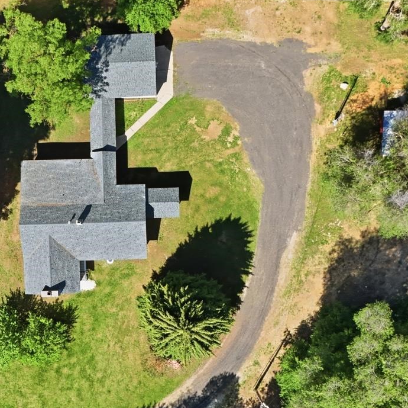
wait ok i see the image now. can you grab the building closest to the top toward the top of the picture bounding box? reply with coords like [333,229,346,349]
[91,34,160,99]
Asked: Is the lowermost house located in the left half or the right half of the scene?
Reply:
left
